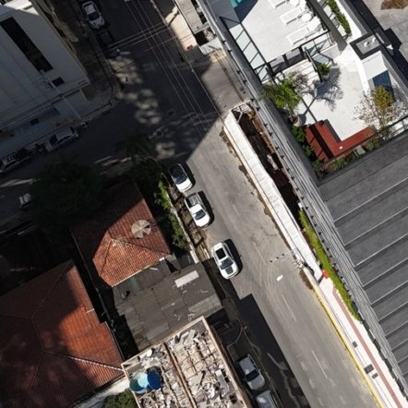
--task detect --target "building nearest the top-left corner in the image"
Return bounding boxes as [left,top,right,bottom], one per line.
[0,0,102,159]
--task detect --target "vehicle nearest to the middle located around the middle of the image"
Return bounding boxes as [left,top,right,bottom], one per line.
[178,187,214,233]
